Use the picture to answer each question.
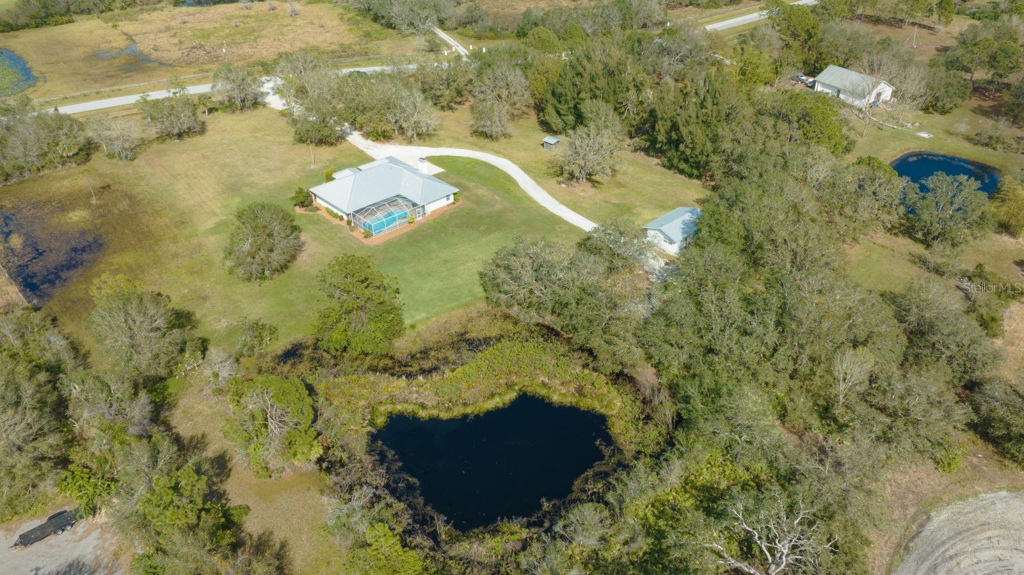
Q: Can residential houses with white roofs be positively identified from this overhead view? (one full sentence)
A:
Yes, I can see a residential house with a white roof in this picture.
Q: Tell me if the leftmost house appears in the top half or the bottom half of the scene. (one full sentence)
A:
The leftmost house is in the top half of the image.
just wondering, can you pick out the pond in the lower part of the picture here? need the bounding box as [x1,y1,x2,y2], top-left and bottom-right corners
[365,391,621,538]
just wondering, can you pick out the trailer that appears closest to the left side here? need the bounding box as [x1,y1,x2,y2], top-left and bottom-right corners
[0,505,86,548]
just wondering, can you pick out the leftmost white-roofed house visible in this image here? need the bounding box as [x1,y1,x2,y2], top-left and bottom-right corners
[307,155,459,222]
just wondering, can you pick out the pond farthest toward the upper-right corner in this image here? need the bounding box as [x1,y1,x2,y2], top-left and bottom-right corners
[890,151,1002,214]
